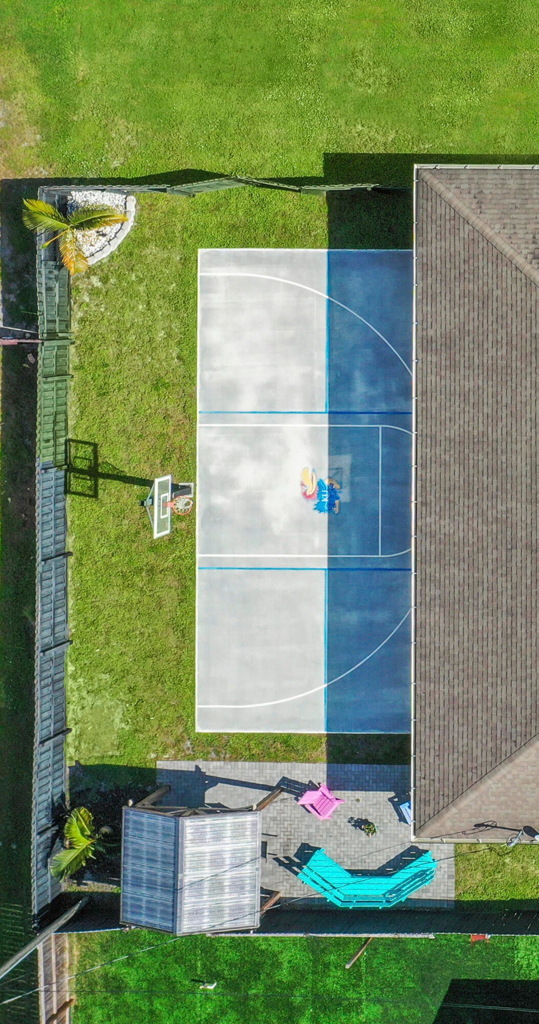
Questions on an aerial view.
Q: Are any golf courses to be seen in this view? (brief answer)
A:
No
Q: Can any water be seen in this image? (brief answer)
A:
No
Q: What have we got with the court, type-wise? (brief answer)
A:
basketball court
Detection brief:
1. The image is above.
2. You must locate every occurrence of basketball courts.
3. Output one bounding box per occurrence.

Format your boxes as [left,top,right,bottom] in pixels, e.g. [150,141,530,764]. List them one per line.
[196,248,412,733]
